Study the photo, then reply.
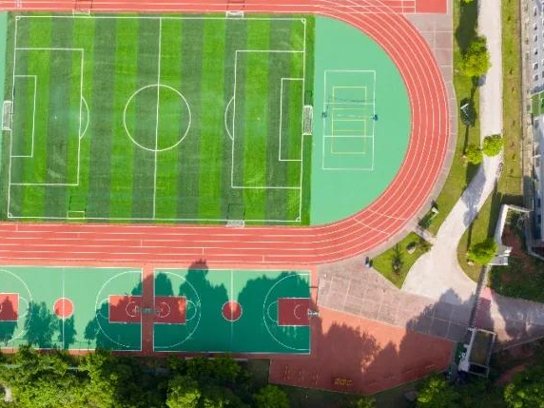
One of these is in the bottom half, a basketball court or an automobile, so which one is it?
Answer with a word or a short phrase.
basketball court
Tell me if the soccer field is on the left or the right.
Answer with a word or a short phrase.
left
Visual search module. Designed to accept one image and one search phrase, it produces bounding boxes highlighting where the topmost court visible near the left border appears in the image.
[0,267,142,351]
